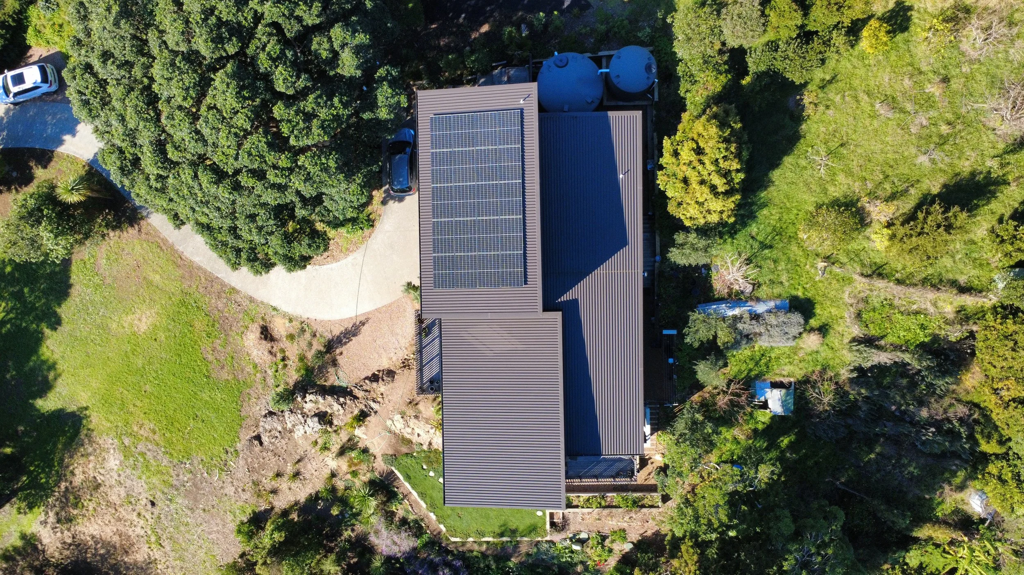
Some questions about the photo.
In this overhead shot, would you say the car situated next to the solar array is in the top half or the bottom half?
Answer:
top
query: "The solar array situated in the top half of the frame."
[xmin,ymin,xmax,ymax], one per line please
[429,110,525,288]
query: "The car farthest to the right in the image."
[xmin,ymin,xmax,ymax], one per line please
[382,126,416,195]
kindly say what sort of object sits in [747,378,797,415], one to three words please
shed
